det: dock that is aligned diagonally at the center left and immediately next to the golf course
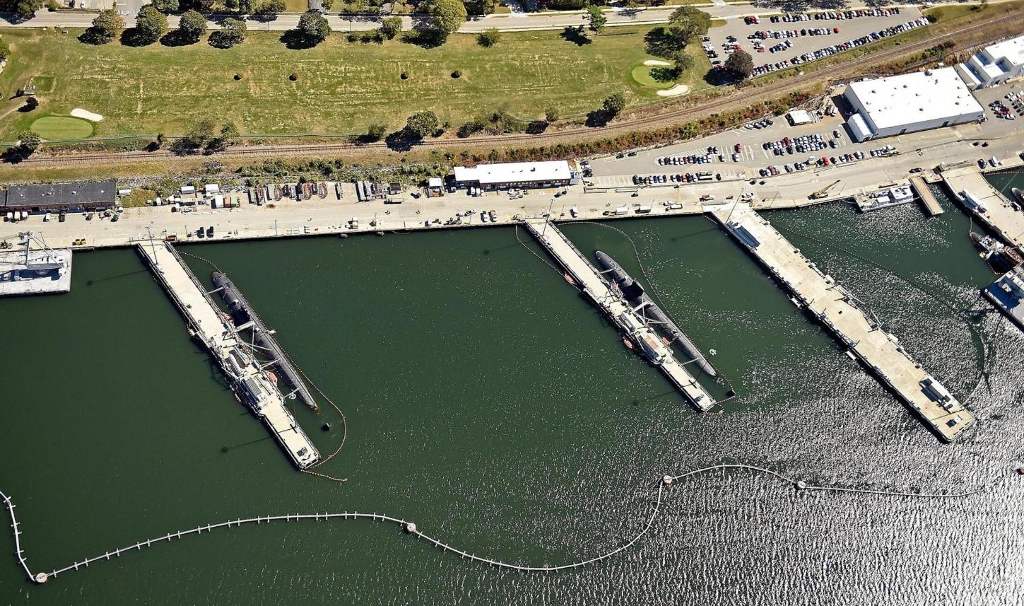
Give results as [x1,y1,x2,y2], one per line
[136,242,320,472]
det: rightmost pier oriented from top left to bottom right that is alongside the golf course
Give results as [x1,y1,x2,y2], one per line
[711,210,974,442]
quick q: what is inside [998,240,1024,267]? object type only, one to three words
boat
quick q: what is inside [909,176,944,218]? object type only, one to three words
pier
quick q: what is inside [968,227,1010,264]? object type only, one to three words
boat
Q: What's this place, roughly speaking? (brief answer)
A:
port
